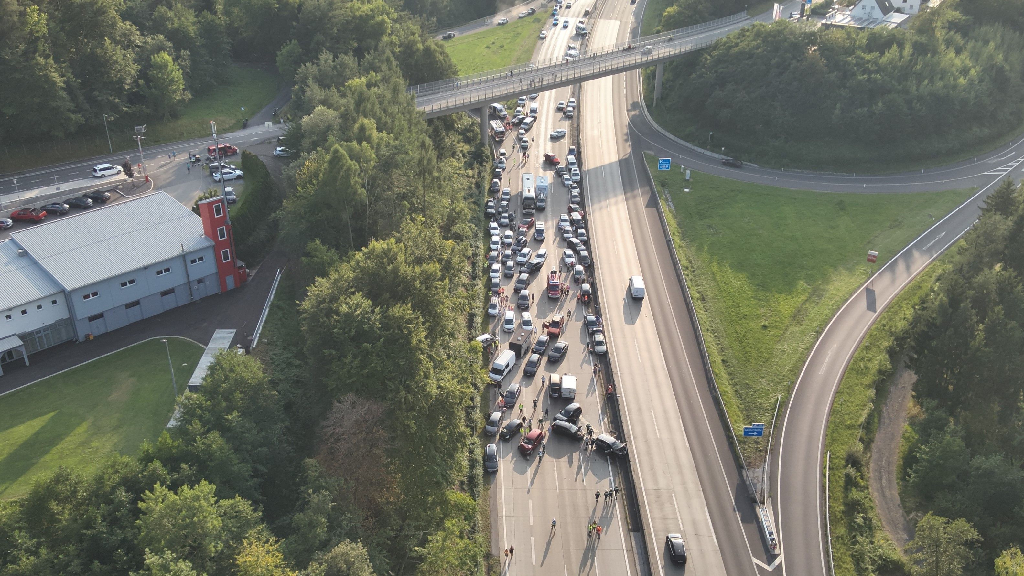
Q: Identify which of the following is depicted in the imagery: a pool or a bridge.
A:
bridge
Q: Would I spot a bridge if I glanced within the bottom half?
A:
No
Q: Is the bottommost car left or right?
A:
right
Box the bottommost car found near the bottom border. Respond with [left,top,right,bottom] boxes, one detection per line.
[666,531,687,562]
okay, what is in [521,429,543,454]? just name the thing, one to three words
car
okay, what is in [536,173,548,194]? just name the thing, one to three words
vehicle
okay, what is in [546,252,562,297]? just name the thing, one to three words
vehicle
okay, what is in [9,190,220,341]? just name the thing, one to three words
building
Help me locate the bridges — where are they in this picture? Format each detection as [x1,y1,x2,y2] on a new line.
[405,7,772,147]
